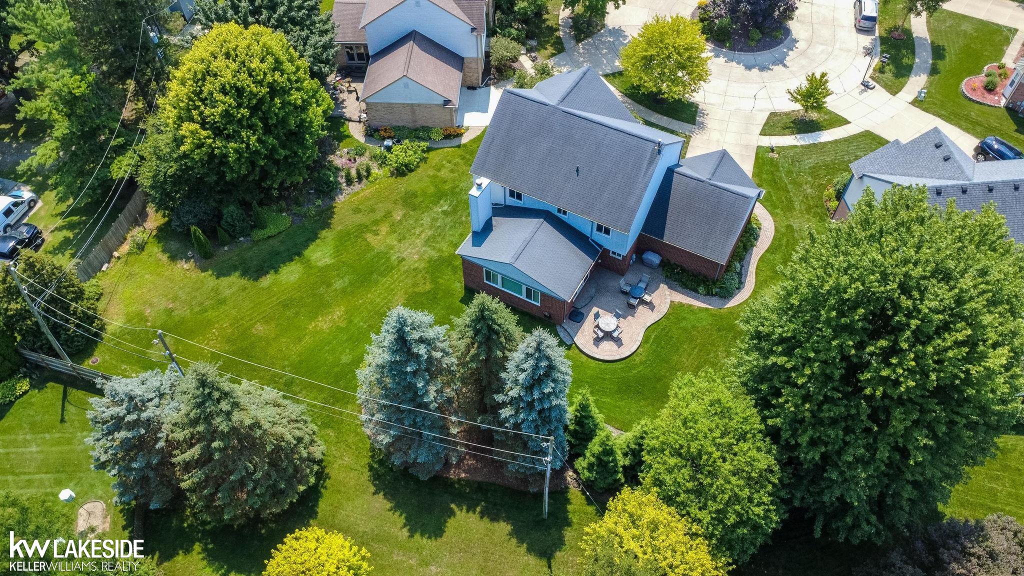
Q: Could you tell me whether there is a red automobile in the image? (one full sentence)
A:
No, no red automobile is visible in the view.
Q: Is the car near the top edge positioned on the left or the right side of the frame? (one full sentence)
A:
You can find the car near the top edge on the right side of the picture.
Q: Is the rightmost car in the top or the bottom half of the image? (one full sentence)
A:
The rightmost car sits in the top half of the picture.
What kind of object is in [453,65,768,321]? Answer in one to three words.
house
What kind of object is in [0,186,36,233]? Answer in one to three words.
van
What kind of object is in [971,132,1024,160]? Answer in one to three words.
car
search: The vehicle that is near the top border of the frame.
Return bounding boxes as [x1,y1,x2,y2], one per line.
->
[843,0,881,28]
